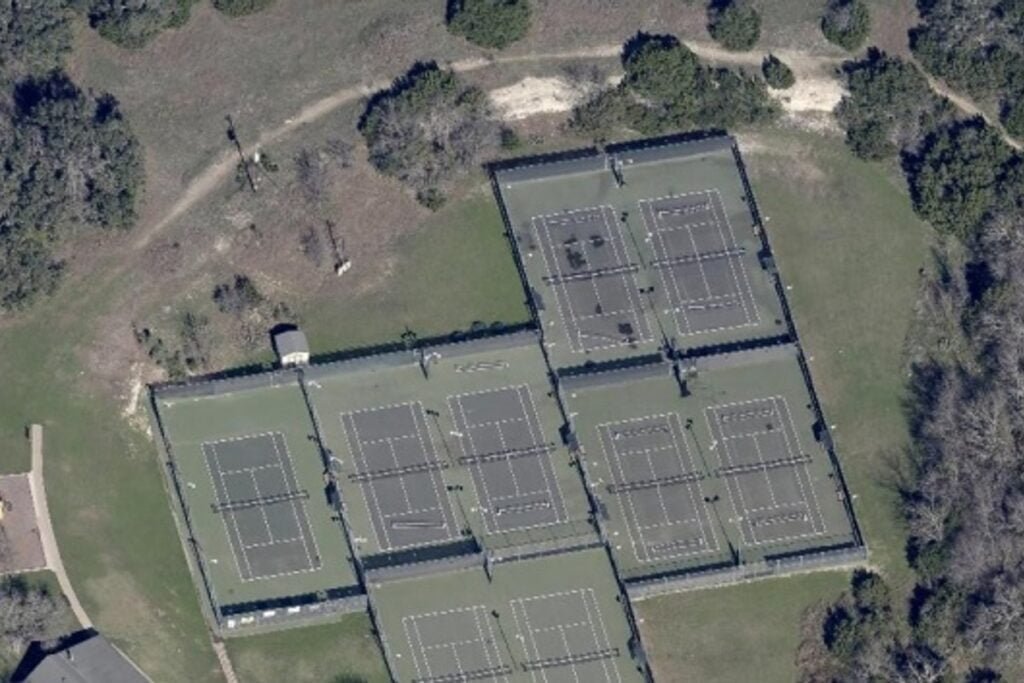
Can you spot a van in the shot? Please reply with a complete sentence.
No, no van can be seen from above.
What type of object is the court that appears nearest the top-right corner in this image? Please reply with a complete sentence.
It turns out the court that appears nearest the top-right corner is a tennis court.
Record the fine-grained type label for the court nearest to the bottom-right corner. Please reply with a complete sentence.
Specifically, the court nearest to the bottom-right corner is a tennis court.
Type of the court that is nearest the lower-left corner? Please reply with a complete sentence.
I'd say the court that is nearest the lower-left corner is a tennis court.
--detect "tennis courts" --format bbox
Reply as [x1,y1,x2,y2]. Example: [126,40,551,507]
[511,588,619,683]
[403,606,506,683]
[340,401,460,550]
[448,385,568,534]
[202,431,322,581]
[704,396,826,545]
[533,205,652,351]
[597,412,719,562]
[639,189,759,335]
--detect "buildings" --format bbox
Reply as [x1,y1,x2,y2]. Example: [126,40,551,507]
[276,329,310,369]
[24,634,148,683]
